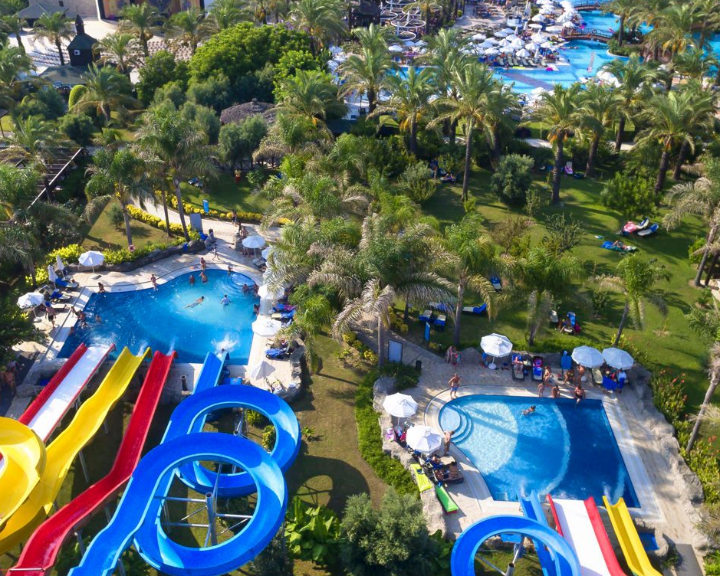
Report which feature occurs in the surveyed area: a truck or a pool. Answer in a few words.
pool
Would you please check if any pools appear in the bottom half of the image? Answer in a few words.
Yes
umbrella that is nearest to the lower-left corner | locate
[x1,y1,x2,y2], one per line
[18,295,49,333]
